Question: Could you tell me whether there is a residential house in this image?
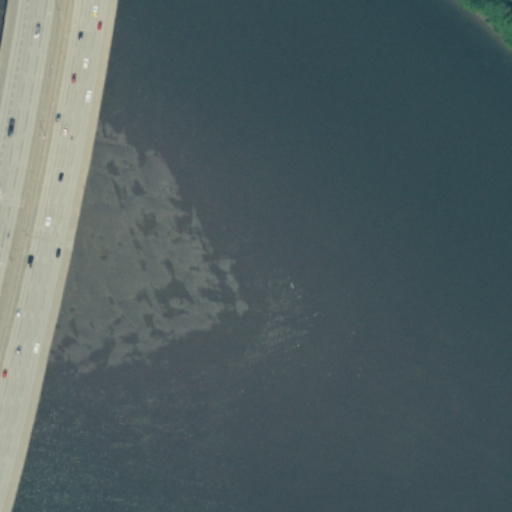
No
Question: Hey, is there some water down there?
Yes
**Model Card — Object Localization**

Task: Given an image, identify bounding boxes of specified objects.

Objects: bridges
[0,0,118,512]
